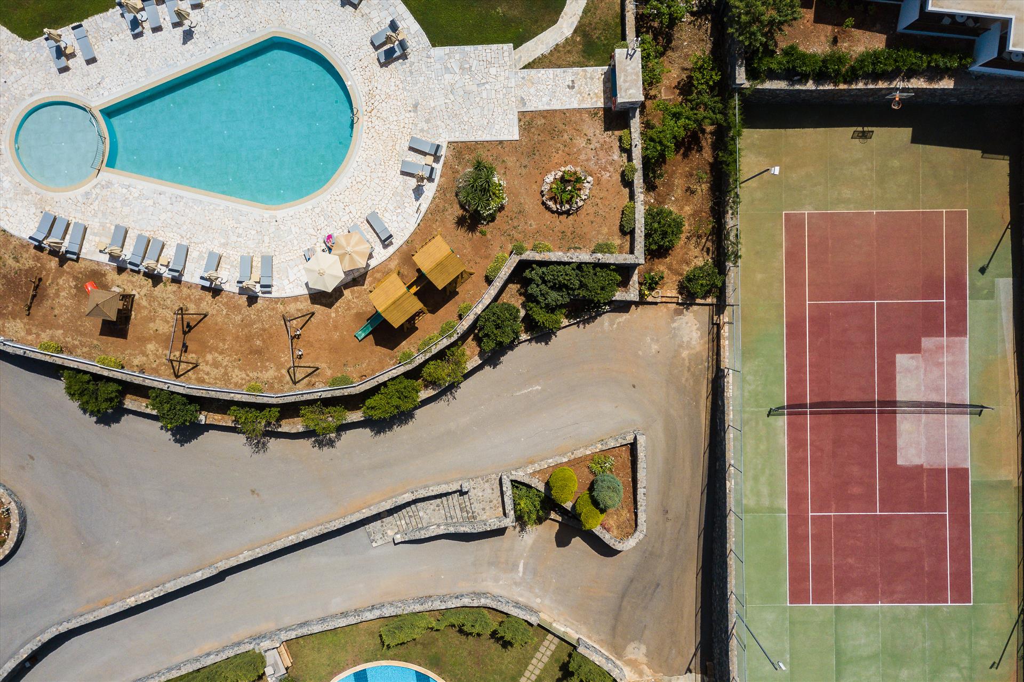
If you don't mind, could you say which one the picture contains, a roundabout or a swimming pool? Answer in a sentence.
The one in the frame is a swimming pool.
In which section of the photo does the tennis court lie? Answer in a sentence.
The tennis court is in the right part of the image.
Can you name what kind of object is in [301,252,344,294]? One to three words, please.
umbrella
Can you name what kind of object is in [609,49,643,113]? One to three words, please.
shed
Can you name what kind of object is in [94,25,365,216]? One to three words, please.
swimming pool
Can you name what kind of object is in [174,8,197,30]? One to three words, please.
umbrella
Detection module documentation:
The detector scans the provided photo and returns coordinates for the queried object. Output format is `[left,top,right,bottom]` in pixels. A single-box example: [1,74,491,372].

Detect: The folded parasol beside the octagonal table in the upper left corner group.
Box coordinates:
[44,28,72,48]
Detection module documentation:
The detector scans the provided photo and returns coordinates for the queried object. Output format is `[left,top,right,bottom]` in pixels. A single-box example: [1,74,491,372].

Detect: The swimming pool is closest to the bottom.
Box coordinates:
[325,661,450,682]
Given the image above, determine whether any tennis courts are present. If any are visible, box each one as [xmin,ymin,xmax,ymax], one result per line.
[721,104,1024,682]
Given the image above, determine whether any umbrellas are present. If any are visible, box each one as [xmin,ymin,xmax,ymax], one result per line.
[142,259,168,274]
[328,230,372,272]
[414,168,428,186]
[122,0,148,21]
[240,279,261,296]
[383,29,399,45]
[106,246,130,262]
[45,238,68,254]
[174,8,197,30]
[301,252,344,294]
[44,28,72,48]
